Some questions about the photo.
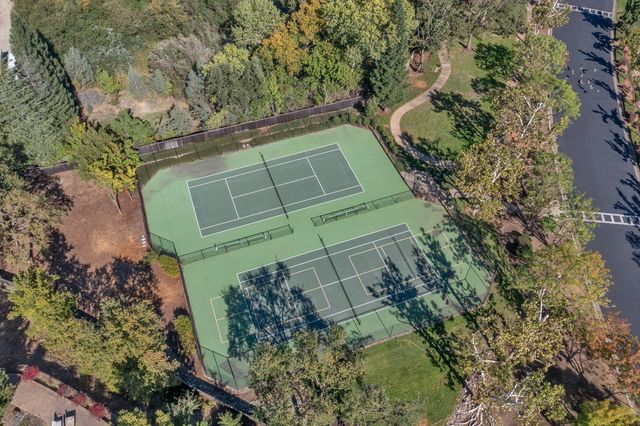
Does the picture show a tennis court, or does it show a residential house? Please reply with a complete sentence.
It is a tennis court that can be seen here.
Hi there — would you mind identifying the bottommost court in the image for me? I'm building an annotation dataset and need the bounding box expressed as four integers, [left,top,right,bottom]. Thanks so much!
[181,198,491,392]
